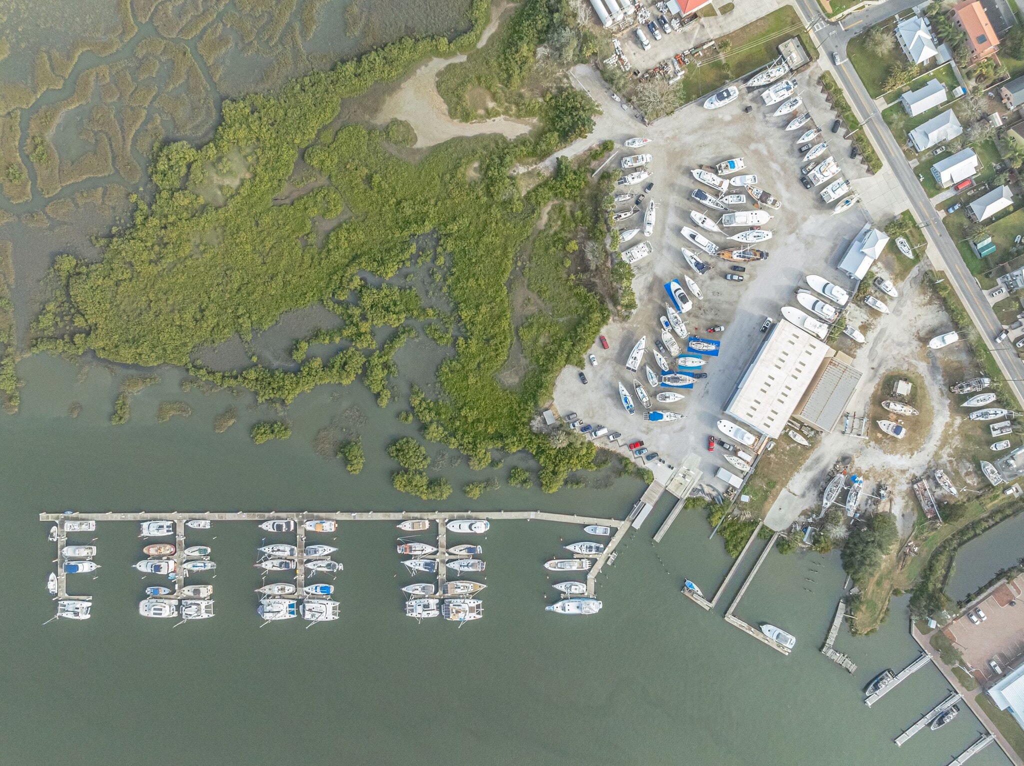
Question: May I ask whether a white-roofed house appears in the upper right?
Yes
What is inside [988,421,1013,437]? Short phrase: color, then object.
white ship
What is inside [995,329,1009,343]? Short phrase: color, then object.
white vehicle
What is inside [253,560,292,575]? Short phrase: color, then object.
white boat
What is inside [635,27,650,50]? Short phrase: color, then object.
white vehicle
